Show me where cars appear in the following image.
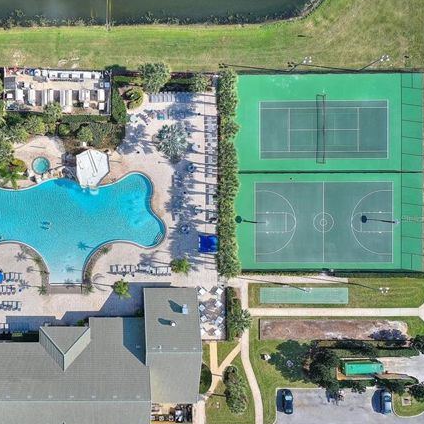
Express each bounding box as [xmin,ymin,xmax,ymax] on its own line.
[282,388,295,414]
[379,390,393,414]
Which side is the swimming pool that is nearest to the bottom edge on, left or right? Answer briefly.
left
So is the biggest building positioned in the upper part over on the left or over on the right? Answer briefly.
left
